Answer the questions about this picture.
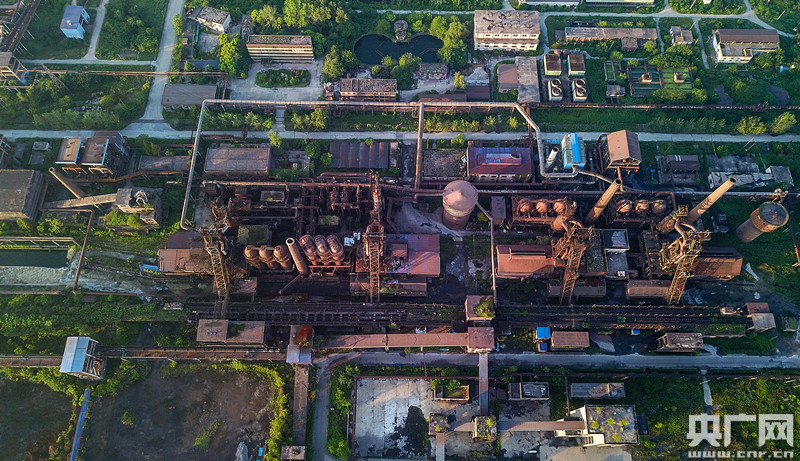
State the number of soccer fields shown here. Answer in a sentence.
Not a single soccer field can be seen.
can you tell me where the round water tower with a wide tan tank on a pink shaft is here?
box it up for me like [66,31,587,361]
[730,199,791,247]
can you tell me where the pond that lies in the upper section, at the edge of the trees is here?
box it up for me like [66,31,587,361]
[353,34,445,65]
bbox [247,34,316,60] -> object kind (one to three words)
building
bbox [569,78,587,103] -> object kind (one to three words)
cooling tower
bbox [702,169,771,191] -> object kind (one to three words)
house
